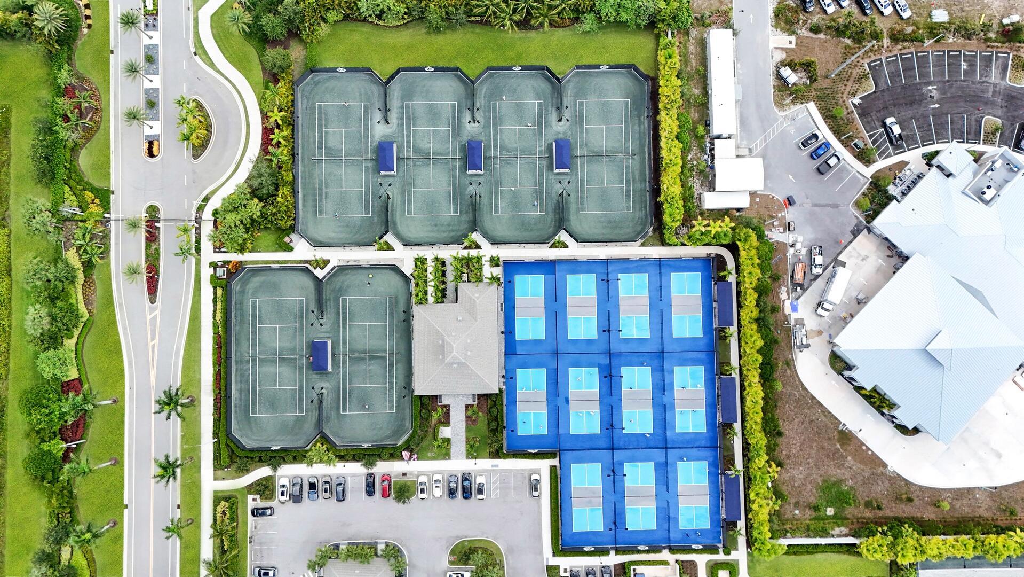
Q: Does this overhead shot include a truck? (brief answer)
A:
Yes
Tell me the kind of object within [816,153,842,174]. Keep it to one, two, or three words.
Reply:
truck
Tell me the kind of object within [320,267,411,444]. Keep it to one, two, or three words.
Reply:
tennis court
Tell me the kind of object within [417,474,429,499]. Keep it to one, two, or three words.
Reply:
vehicle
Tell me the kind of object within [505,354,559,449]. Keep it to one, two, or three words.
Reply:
sports court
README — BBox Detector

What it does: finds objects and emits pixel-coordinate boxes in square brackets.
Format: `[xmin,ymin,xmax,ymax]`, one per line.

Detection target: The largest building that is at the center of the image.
[414,282,499,395]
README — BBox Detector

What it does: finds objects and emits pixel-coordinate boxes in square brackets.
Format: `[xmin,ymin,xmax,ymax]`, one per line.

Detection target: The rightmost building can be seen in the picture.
[833,141,1024,444]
